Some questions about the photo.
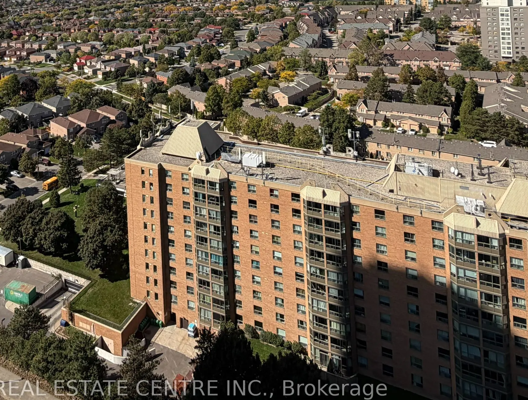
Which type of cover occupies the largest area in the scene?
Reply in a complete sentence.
The scene is dominated by buildings.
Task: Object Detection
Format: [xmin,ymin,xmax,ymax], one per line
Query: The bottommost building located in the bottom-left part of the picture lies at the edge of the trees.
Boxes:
[62,276,143,364]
